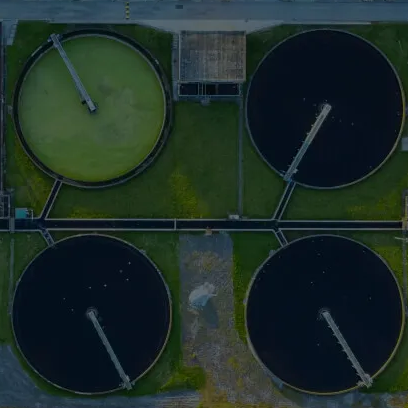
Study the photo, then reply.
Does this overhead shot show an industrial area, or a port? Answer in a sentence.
The picture captures an industrial area.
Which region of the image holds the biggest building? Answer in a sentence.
The biggest building sits in the top section of the image.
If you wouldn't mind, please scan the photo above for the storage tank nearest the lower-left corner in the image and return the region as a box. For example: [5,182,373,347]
[12,234,173,394]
